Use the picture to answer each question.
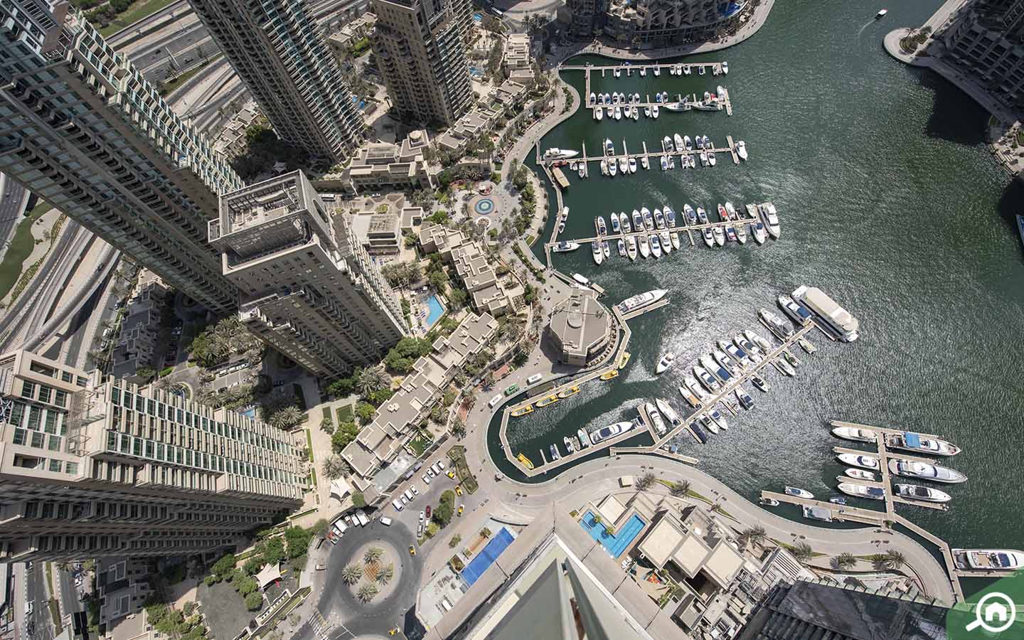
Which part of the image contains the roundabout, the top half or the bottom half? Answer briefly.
bottom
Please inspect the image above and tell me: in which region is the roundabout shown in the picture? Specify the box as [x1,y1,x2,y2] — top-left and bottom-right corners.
[308,518,422,640]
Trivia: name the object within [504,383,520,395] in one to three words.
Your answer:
vehicle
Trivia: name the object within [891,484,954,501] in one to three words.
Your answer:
boat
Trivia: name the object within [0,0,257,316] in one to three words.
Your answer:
building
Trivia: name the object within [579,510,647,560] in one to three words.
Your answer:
swimming pool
